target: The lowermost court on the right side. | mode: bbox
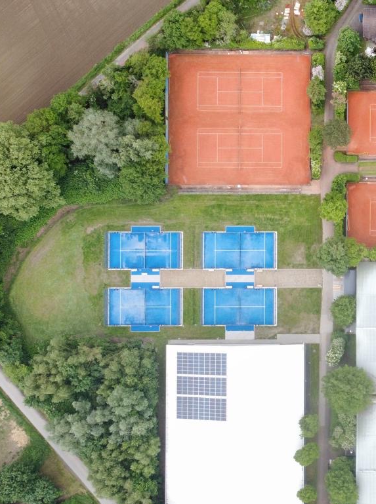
[201,283,278,332]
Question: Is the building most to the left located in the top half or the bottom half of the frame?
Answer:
bottom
